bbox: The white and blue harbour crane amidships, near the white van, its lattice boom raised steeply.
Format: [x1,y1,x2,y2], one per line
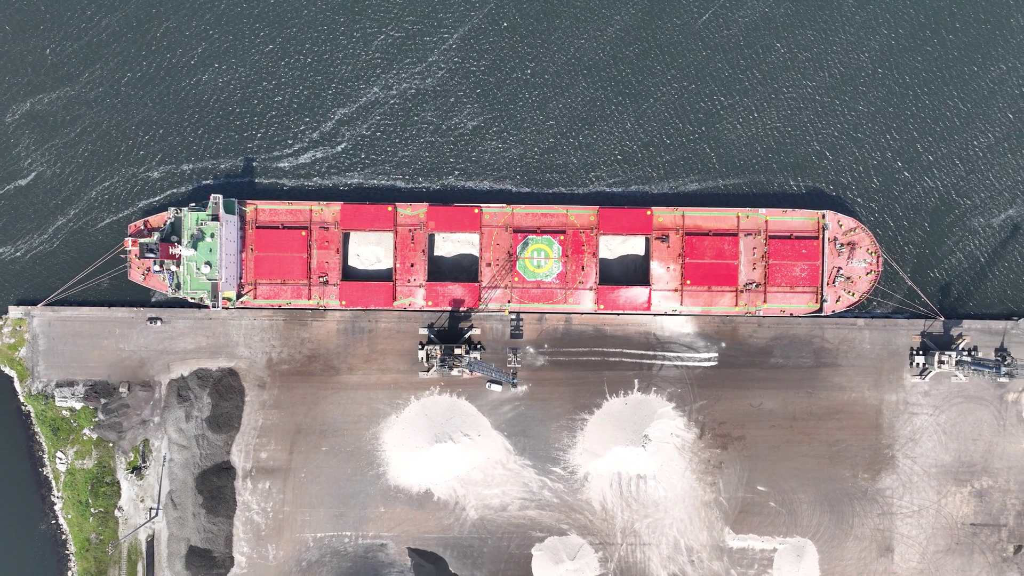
[418,328,528,388]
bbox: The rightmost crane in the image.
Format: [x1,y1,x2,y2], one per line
[910,335,1024,382]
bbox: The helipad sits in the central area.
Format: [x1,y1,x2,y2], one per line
[516,235,563,283]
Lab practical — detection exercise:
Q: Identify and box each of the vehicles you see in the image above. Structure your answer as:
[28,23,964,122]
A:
[485,381,503,390]
[146,318,163,326]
